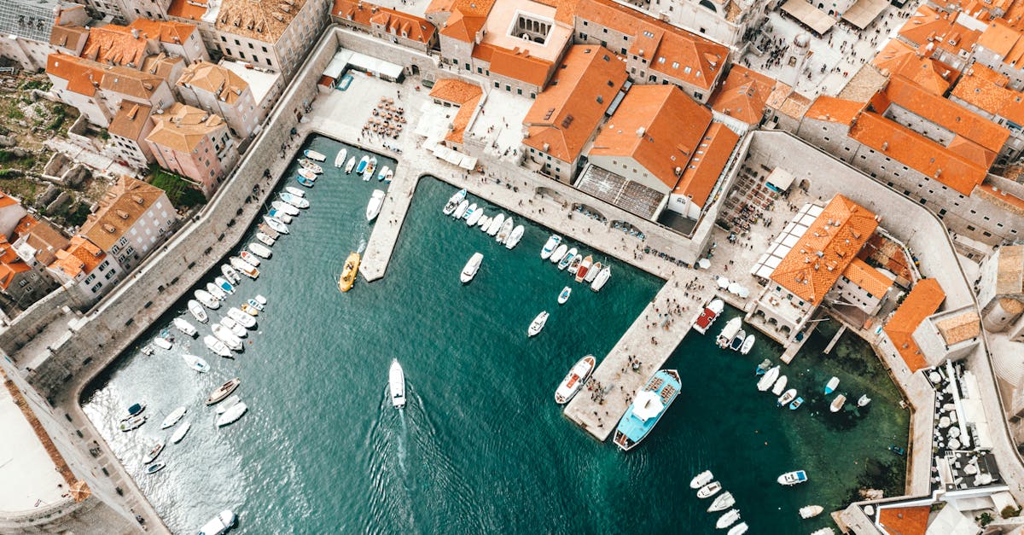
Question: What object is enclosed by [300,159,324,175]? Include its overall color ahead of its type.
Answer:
white boat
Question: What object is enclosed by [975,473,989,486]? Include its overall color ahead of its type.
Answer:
white umbrella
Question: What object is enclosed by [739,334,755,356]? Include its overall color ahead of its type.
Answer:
white boat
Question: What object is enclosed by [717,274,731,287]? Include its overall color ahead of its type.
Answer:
white umbrella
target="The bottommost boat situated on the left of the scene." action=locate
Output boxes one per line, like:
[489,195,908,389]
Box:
[194,513,236,535]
